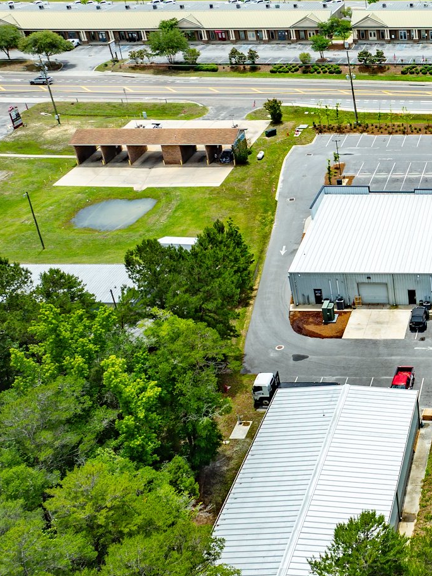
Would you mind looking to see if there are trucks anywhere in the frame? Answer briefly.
Yes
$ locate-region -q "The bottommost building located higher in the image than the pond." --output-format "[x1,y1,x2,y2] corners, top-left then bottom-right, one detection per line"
[65,129,246,166]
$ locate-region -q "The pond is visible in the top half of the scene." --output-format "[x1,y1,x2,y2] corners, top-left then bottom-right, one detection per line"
[71,198,157,231]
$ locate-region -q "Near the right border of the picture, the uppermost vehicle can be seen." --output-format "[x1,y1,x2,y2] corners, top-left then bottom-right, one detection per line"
[408,304,428,332]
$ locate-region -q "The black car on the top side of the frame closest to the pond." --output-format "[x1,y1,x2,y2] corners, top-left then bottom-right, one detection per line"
[215,151,231,166]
